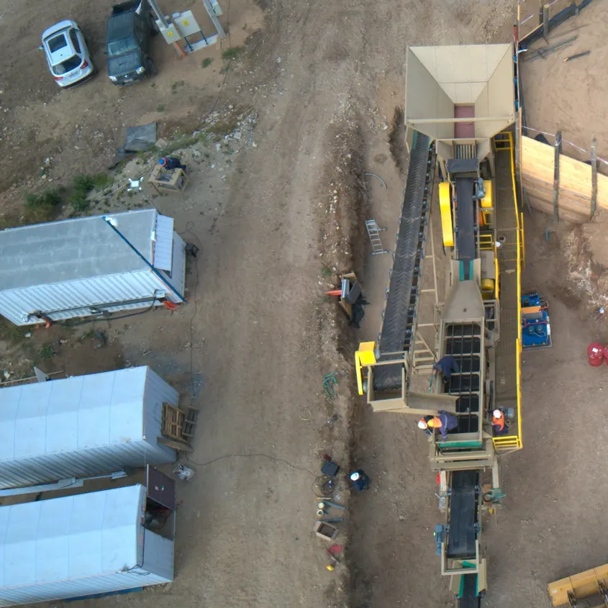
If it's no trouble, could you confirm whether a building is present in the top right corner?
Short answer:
No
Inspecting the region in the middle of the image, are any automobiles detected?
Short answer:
No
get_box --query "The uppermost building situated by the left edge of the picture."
[0,210,189,330]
